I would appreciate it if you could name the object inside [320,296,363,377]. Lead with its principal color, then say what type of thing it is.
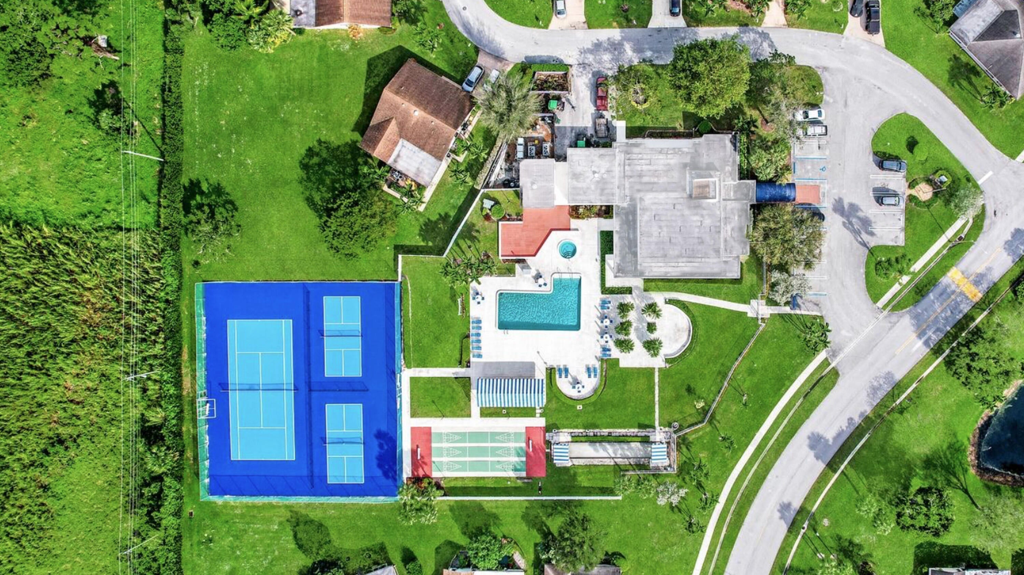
blue sports court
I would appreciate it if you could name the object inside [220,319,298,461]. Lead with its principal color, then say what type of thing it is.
blue tennis court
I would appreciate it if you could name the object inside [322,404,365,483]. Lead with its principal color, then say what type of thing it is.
blue sports court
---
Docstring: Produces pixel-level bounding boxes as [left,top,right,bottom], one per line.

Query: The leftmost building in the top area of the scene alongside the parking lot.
[520,121,756,279]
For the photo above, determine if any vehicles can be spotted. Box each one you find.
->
[554,0,566,19]
[797,124,828,138]
[794,109,825,122]
[596,76,610,111]
[463,64,484,93]
[877,194,904,207]
[877,159,907,173]
[848,0,865,19]
[668,0,681,17]
[865,0,882,35]
[482,65,502,93]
